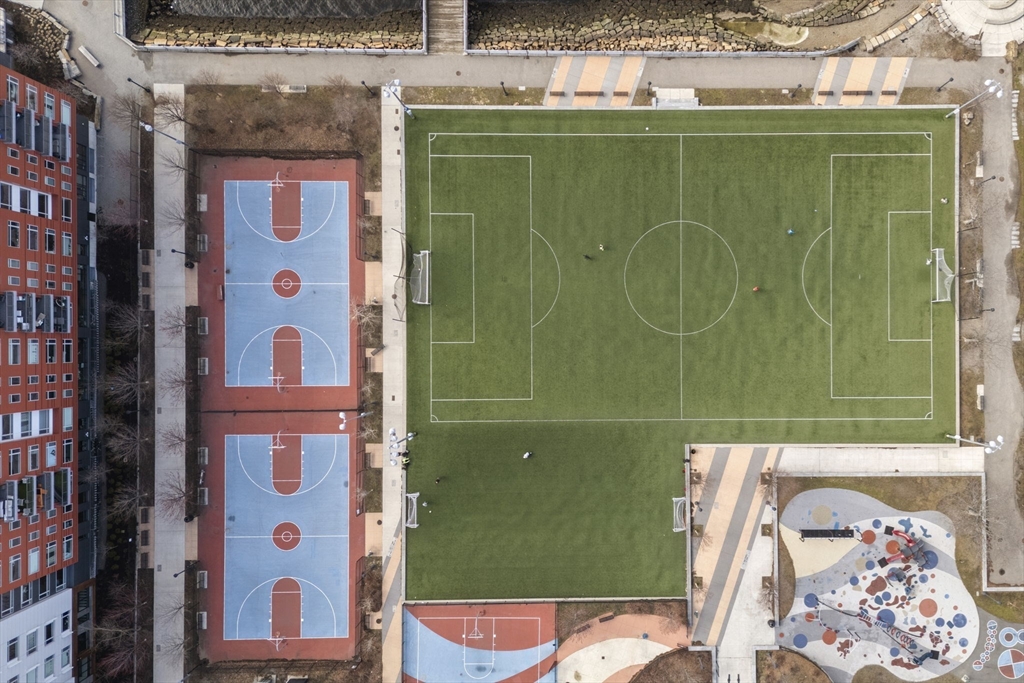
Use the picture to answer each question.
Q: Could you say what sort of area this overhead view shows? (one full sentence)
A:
What you see here is a sports ground.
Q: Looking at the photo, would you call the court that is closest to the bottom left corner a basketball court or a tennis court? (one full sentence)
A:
I'd say the court that is closest to the bottom left corner is a basketball court.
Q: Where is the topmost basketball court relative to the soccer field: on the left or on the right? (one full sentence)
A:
Looking at the picture, you'll find the topmost basketball court to the left of the soccer field.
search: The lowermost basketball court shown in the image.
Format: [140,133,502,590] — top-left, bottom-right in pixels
[404,604,556,683]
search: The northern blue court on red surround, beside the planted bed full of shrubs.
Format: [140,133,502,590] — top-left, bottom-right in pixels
[198,157,363,411]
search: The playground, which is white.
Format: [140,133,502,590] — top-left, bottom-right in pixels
[777,488,979,683]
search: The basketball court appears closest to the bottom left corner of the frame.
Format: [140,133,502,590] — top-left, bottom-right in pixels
[200,412,363,661]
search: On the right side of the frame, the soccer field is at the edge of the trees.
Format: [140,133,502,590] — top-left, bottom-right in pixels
[400,105,959,603]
